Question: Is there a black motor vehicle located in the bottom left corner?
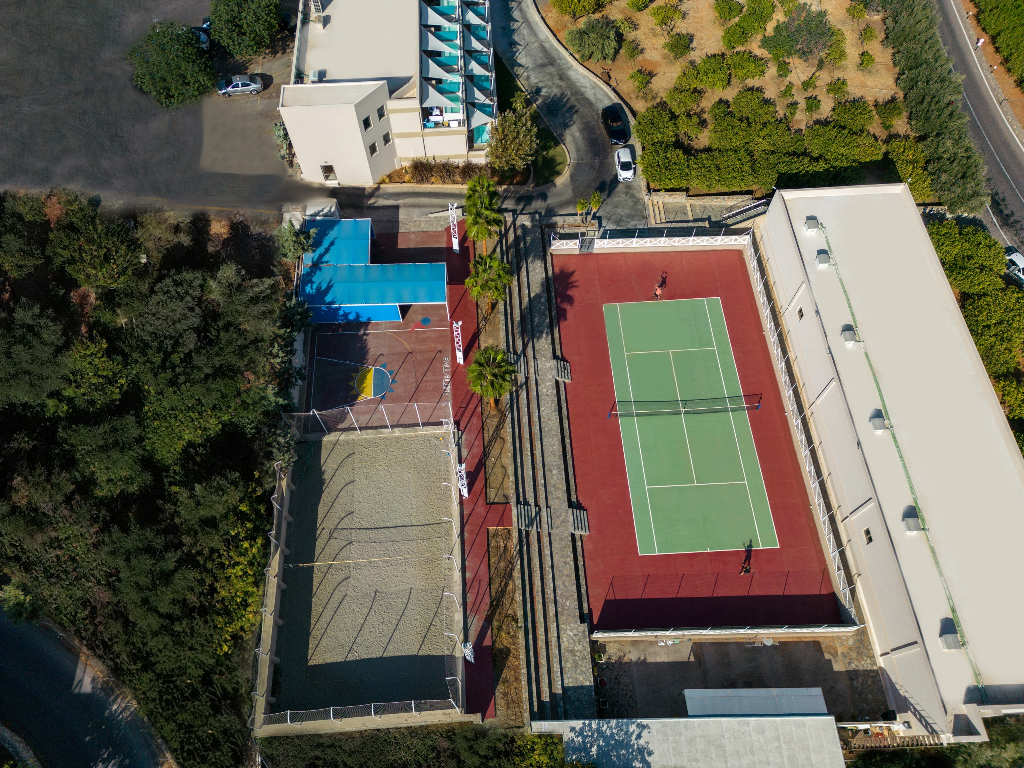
No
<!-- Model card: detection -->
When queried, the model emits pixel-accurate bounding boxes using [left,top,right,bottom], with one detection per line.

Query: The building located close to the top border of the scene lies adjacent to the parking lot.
[278,0,498,186]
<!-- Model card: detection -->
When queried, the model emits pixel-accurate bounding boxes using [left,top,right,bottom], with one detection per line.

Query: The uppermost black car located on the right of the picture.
[604,108,628,145]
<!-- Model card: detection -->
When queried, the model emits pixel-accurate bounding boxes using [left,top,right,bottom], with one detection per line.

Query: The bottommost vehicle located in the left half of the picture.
[217,73,263,99]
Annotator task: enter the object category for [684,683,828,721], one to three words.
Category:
shed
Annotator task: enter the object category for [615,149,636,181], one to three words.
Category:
car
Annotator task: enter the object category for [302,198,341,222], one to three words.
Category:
shed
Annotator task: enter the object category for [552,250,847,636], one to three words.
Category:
tennis court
